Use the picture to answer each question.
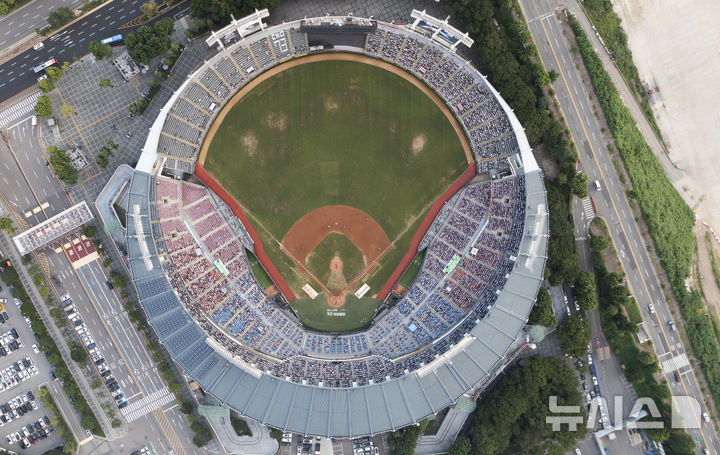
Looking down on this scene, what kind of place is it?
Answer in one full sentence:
The picture captures a sports ground.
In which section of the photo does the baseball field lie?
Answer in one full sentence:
The baseball field sits in the center section of the image.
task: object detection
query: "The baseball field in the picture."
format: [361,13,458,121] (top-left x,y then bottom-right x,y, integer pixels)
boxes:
[197,52,475,334]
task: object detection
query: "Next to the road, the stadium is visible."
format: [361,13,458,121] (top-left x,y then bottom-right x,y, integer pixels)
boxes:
[94,0,567,455]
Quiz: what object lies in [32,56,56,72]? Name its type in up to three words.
vehicle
